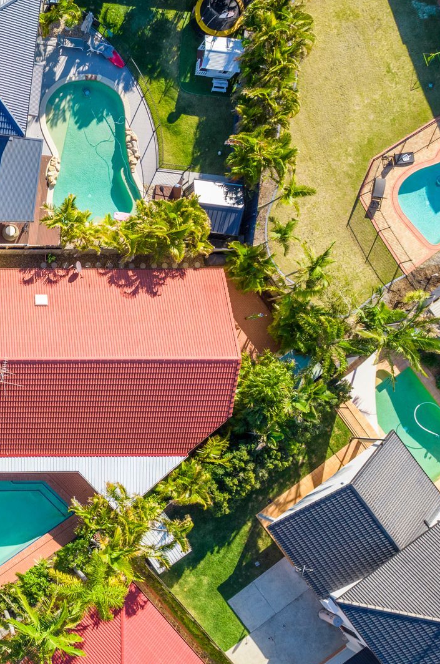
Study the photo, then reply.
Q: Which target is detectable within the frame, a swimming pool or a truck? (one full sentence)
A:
Visible in the photo is a swimming pool.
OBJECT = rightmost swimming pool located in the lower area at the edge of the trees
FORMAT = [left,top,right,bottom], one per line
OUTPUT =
[376,360,440,485]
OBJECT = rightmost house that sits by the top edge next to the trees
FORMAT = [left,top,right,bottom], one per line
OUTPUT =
[199,33,243,94]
